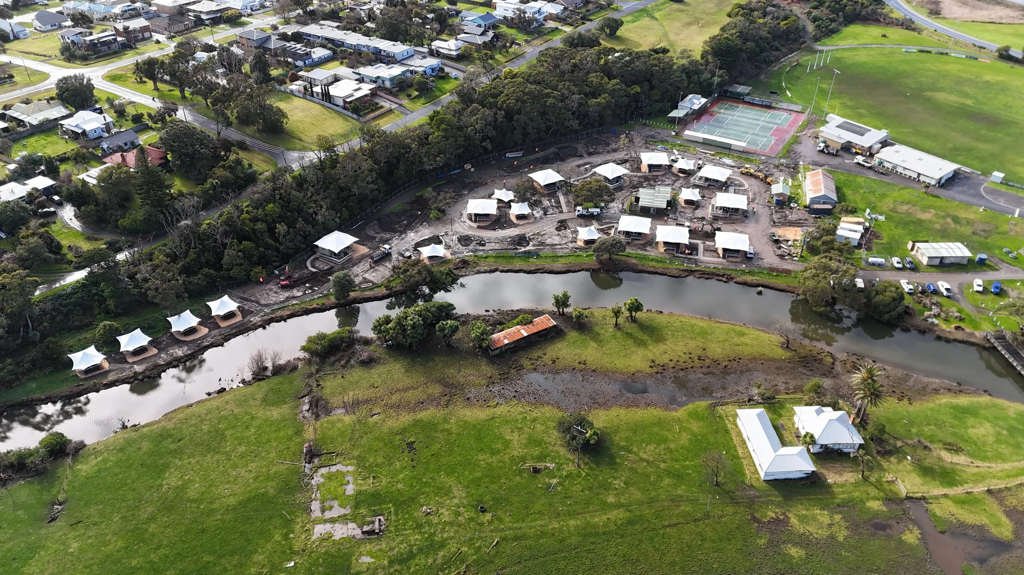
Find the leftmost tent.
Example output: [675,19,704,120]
[61,344,116,379]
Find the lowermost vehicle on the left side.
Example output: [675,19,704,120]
[277,262,291,287]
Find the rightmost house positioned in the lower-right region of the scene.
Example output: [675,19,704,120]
[795,397,865,455]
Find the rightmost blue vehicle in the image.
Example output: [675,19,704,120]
[991,277,1003,292]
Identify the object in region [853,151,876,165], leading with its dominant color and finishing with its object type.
white vehicle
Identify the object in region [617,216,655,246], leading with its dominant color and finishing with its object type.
white tent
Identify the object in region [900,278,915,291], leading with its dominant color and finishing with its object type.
white vehicle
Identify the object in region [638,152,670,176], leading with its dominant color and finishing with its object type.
white tent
